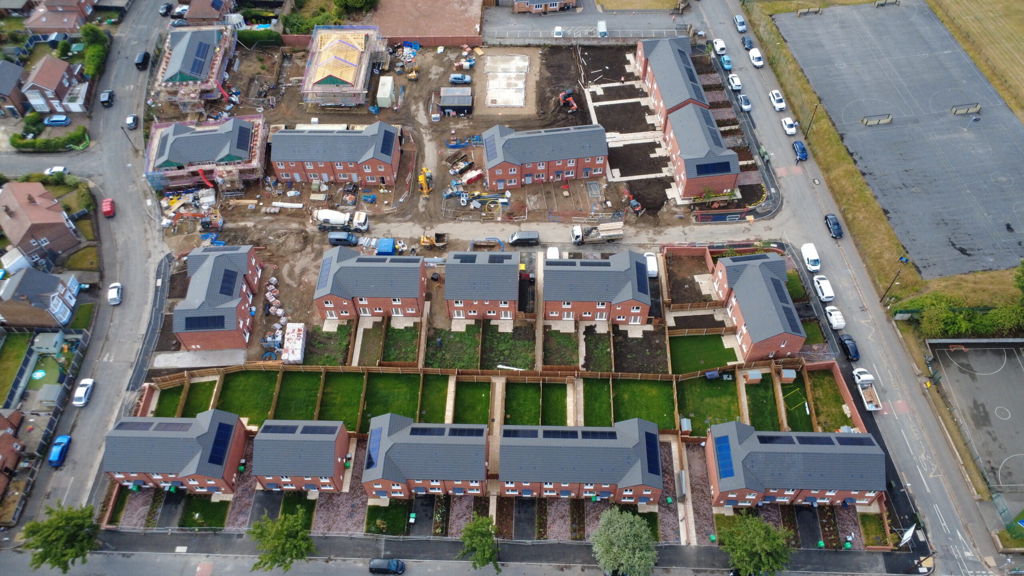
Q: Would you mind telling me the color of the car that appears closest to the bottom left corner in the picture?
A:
blue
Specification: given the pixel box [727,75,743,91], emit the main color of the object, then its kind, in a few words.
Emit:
white car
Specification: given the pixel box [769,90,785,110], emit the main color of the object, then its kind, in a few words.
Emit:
white car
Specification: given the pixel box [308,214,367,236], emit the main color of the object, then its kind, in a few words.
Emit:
white truck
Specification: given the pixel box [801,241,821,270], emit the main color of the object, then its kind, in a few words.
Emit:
white vehicle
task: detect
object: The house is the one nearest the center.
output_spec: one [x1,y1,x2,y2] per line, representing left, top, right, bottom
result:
[445,252,519,318]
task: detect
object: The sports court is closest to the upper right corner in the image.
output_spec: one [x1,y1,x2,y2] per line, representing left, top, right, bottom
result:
[770,0,1024,279]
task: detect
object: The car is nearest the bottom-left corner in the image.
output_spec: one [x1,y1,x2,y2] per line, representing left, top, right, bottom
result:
[47,436,72,468]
